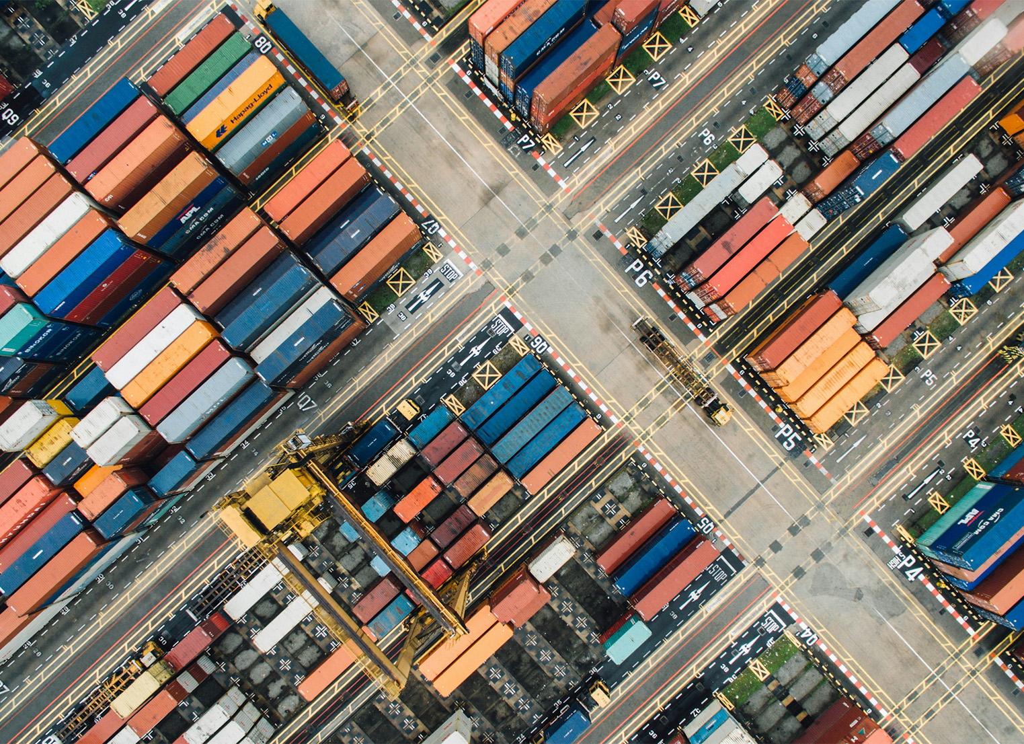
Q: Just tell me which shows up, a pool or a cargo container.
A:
cargo container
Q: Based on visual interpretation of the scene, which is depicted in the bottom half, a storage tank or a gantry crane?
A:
gantry crane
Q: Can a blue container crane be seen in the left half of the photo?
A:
No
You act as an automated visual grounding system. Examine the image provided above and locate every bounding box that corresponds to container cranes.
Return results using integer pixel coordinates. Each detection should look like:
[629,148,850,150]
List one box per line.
[212,418,490,707]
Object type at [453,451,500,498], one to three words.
shipping container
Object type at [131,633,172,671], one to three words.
work vehicle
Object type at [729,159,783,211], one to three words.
shipping container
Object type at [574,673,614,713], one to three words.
work vehicle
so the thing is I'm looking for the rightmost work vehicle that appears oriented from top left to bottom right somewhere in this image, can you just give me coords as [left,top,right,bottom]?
[698,390,739,431]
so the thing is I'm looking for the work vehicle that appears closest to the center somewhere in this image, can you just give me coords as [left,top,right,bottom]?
[388,395,425,434]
